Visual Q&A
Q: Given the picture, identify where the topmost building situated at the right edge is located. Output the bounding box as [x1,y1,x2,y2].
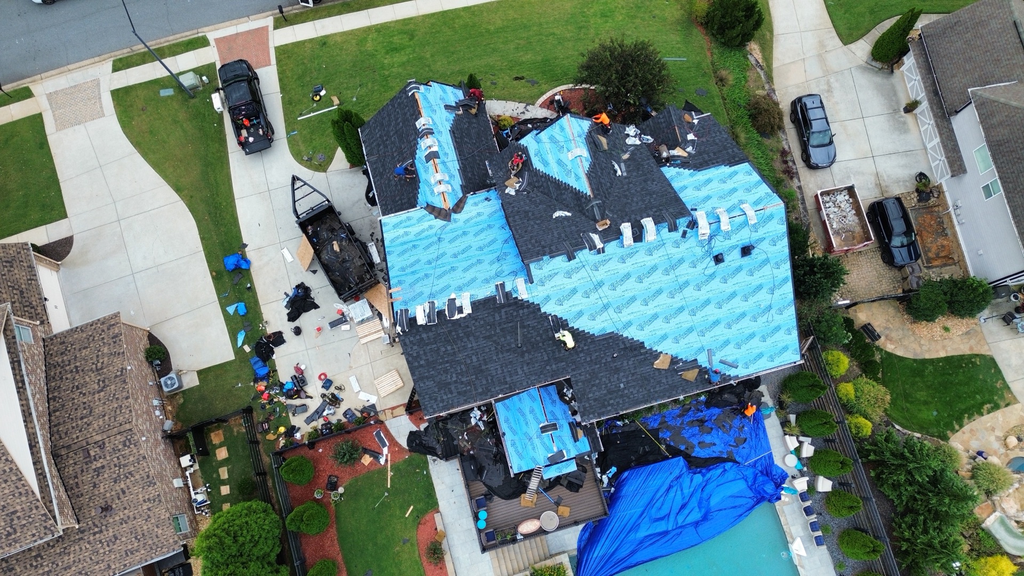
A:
[901,0,1024,296]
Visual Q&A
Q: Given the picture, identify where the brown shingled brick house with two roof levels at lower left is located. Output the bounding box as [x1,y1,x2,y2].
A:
[0,242,197,576]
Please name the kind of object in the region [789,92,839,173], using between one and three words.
car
